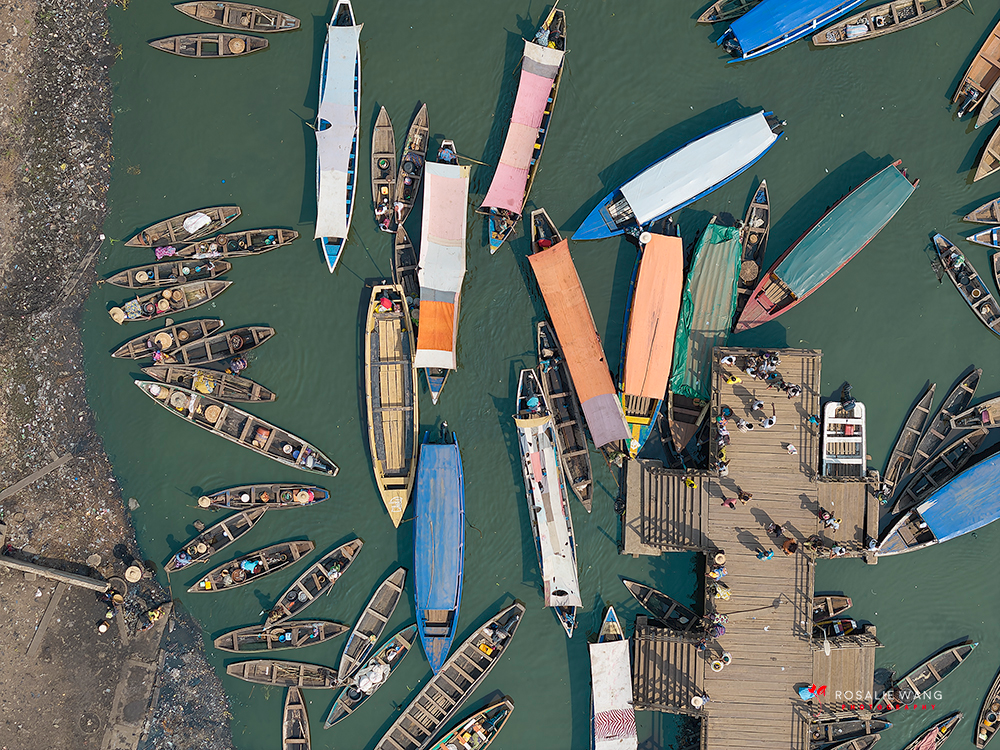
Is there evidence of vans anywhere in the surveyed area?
No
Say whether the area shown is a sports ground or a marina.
marina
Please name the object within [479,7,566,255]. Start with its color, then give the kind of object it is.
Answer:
pink boat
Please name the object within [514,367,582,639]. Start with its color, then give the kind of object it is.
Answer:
white boat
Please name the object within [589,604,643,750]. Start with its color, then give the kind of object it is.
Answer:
white boat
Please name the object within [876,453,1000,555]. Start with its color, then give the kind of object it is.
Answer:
blue boat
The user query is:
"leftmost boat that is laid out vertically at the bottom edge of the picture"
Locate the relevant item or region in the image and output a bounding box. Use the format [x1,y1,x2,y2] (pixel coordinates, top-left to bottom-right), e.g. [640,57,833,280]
[279,687,310,750]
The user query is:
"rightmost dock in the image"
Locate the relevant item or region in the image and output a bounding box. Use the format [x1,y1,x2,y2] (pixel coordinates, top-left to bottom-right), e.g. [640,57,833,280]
[624,348,887,750]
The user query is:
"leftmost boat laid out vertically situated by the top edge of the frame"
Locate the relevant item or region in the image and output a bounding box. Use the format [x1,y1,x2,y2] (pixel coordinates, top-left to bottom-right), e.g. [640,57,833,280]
[315,0,360,272]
